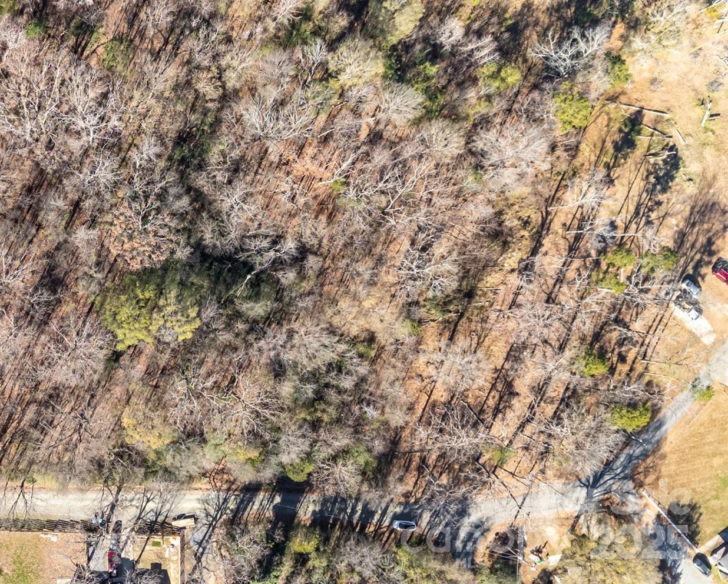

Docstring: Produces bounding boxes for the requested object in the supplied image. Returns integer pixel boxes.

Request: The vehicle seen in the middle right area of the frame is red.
[713,263,728,283]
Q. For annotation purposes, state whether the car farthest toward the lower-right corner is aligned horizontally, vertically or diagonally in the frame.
diagonally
